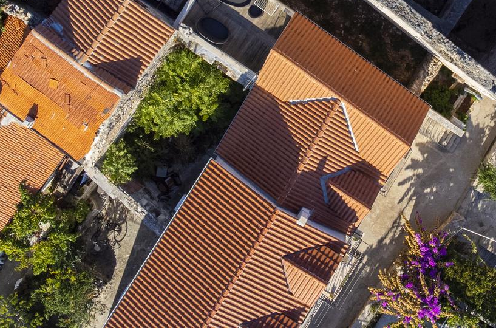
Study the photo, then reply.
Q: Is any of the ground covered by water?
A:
No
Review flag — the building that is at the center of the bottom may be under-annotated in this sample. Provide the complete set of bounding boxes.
[101,158,375,328]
